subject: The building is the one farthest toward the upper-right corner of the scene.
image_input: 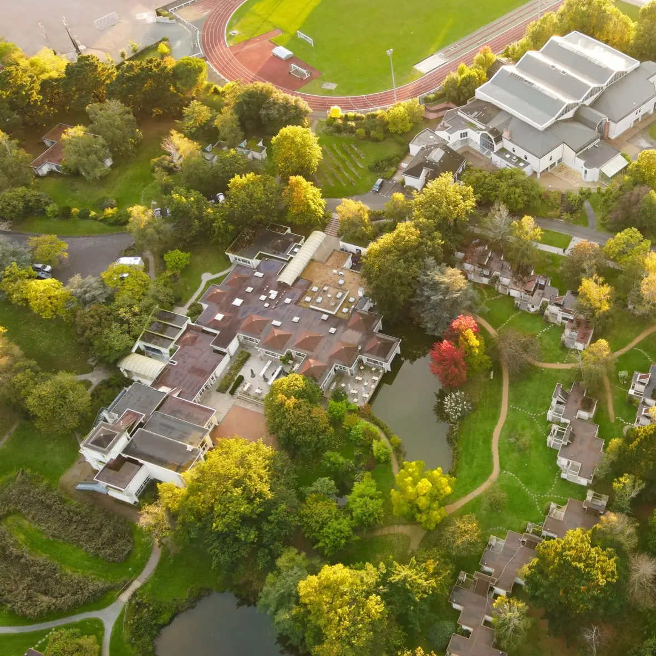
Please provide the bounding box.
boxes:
[402,29,656,188]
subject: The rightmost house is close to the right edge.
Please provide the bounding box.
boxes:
[627,365,656,421]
